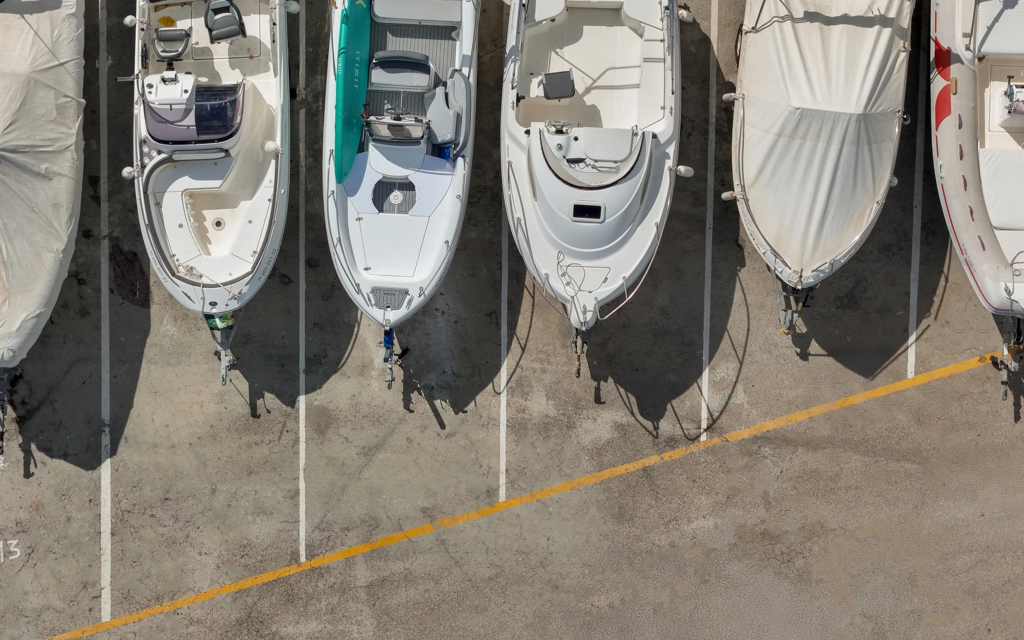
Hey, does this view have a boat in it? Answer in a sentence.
Yes, a boat appears in the view.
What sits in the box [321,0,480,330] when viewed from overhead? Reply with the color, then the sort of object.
white boat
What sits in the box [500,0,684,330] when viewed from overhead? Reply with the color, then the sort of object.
white boat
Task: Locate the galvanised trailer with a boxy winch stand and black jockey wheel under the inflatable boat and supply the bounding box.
[988,312,1024,401]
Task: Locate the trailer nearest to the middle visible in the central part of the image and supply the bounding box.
[562,303,592,379]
